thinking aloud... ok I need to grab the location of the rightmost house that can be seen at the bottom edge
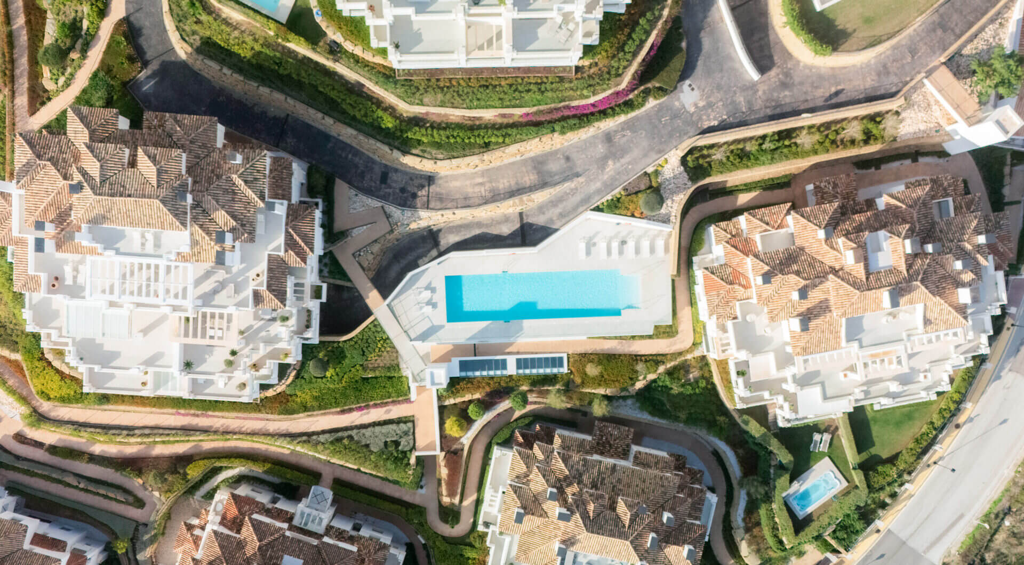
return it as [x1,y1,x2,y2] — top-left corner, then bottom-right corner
[476,417,717,565]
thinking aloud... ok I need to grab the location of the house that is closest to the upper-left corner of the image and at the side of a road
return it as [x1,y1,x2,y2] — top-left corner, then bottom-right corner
[0,105,331,403]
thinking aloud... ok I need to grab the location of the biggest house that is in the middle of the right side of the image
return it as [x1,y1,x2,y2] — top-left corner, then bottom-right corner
[689,166,1021,428]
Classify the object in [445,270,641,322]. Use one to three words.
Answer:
swimming pool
